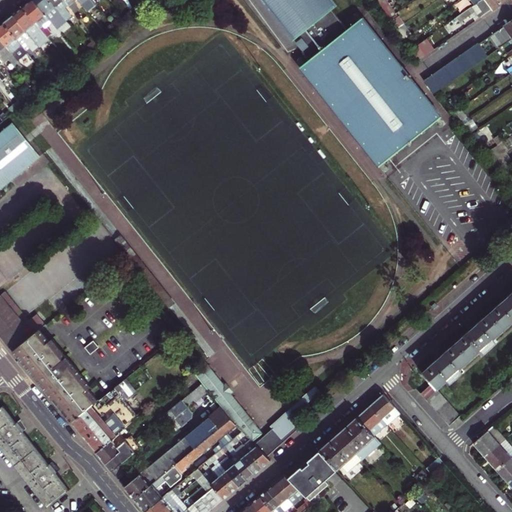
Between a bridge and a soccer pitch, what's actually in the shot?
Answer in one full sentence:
Looking from above, you can make out a soccer pitch.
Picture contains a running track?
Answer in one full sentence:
Yes, you can see a running track in this photo.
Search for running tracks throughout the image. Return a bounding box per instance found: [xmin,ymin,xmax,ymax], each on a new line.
[59,28,397,384]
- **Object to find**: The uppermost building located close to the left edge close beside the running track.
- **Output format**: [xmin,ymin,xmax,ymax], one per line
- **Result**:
[0,121,40,190]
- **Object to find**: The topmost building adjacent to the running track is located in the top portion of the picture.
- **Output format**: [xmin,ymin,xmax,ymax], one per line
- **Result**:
[261,0,337,41]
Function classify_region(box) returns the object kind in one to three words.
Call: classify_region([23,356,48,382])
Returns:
house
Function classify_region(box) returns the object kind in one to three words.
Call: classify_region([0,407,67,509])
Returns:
building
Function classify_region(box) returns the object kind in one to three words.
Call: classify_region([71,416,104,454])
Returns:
house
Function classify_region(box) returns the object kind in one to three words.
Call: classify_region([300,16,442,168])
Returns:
building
